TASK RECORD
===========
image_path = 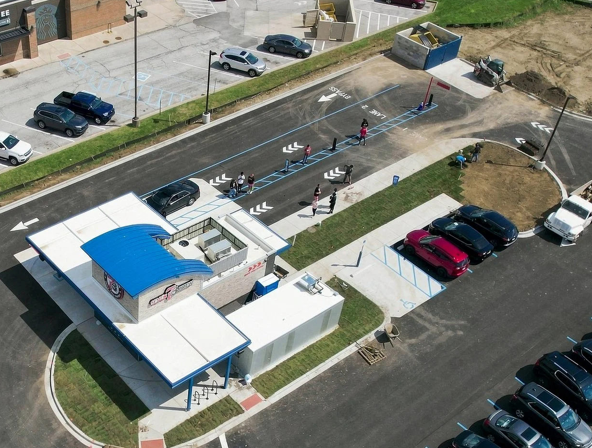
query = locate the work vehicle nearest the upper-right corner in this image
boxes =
[475,57,516,94]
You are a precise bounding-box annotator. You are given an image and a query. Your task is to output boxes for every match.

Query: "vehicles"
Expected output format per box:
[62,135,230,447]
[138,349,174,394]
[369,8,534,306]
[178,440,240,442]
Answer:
[0,129,33,164]
[562,332,592,369]
[263,33,314,57]
[530,348,592,421]
[32,101,88,136]
[475,57,516,94]
[445,422,505,448]
[540,181,592,245]
[143,179,202,217]
[55,91,118,124]
[506,375,592,448]
[454,199,520,243]
[402,229,472,278]
[430,212,499,259]
[476,401,560,448]
[218,46,267,76]
[386,0,427,8]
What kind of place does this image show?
parking lot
